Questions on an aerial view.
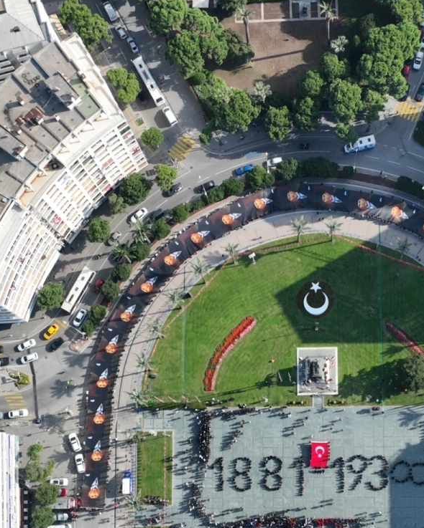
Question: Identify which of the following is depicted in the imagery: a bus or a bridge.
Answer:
bus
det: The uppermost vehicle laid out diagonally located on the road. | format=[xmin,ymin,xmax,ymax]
[101,0,117,20]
